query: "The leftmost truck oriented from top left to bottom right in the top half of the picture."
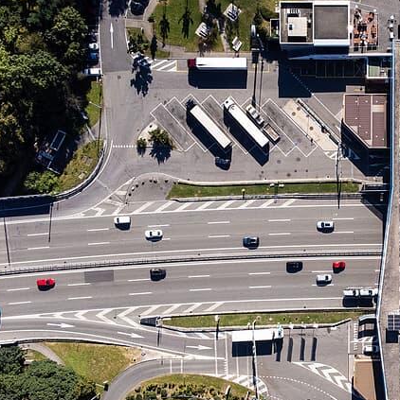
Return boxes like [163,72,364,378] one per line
[186,99,234,151]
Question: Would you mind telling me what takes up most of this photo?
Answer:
paved ground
